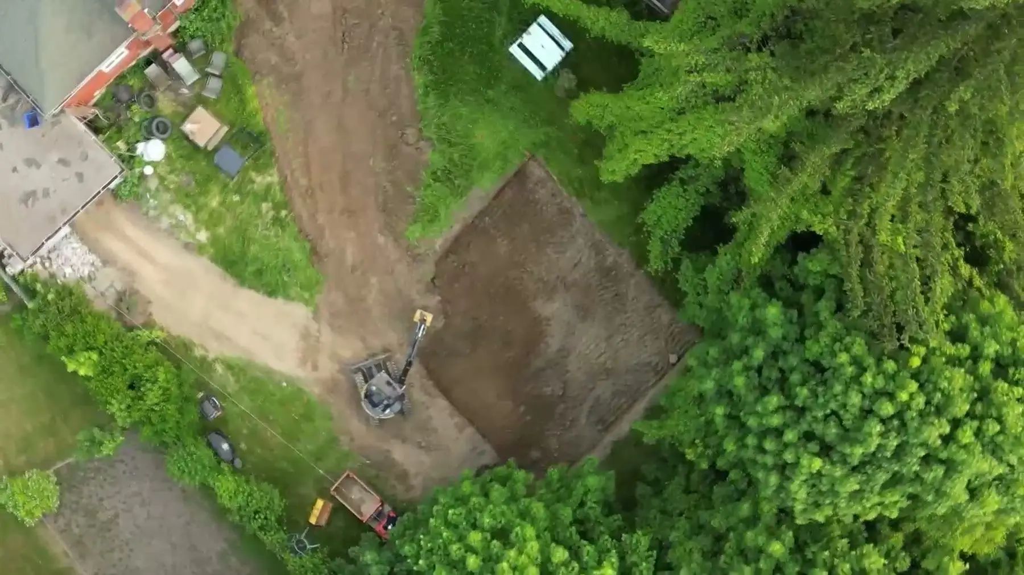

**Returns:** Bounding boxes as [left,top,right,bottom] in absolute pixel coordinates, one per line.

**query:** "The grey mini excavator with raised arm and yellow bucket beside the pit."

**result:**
[344,313,431,427]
